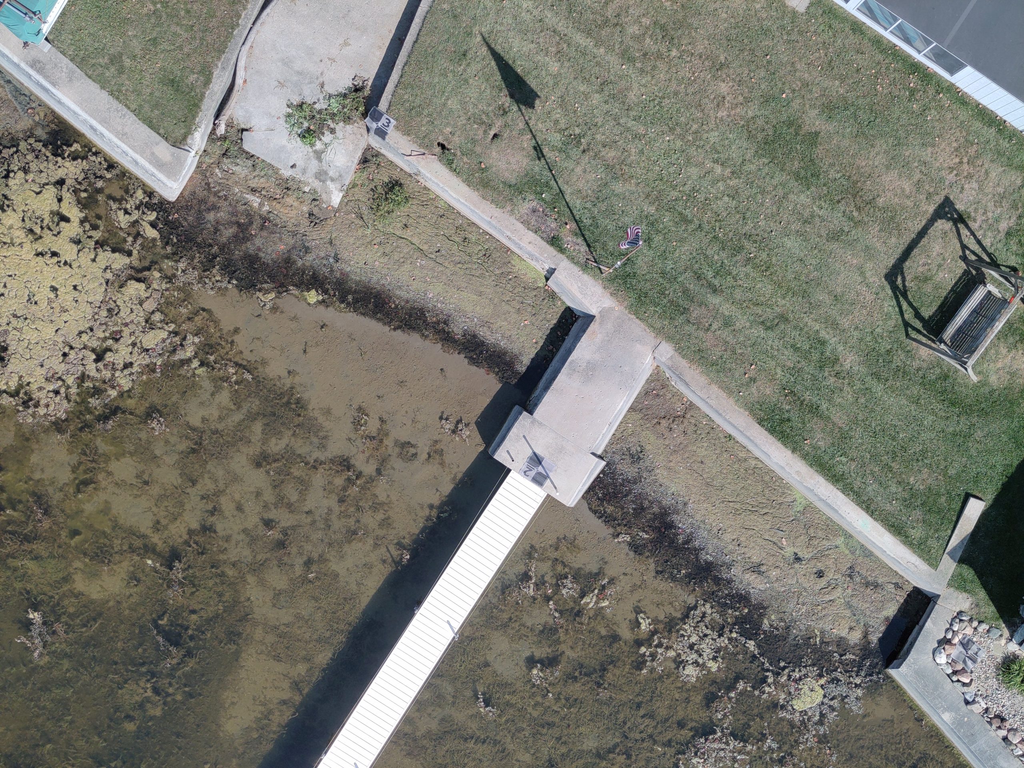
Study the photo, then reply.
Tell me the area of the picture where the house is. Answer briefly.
top right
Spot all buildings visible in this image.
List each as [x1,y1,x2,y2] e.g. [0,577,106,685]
[832,0,1024,133]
